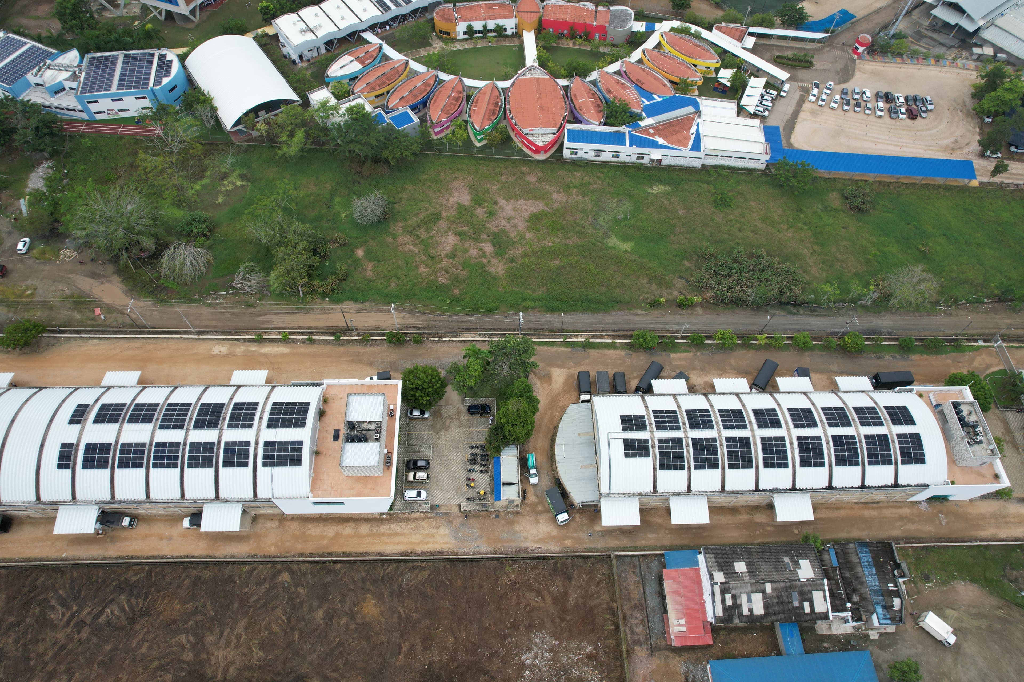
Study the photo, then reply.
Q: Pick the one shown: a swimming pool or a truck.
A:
truck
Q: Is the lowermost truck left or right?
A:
right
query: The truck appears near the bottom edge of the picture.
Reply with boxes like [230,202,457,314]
[917,609,963,650]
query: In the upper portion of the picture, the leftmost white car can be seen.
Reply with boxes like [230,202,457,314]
[16,239,31,255]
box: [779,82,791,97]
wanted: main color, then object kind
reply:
white vehicle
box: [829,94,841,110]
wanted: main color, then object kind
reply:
white vehicle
